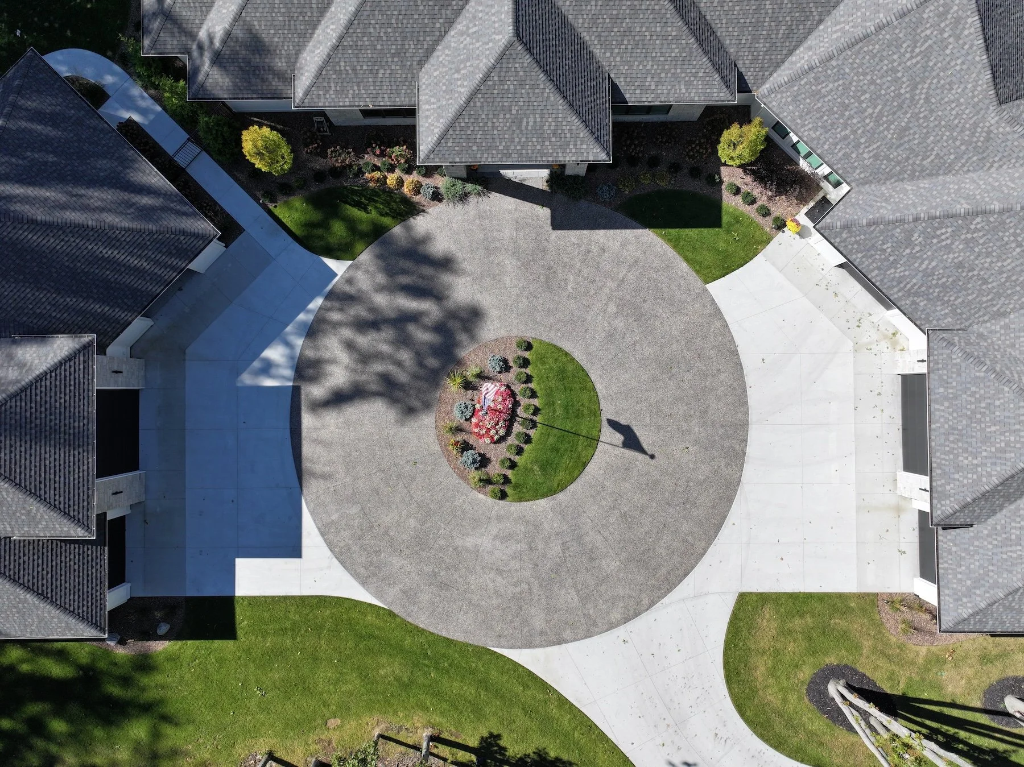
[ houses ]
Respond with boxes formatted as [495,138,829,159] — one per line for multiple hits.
[0,49,221,639]
[141,0,1024,633]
